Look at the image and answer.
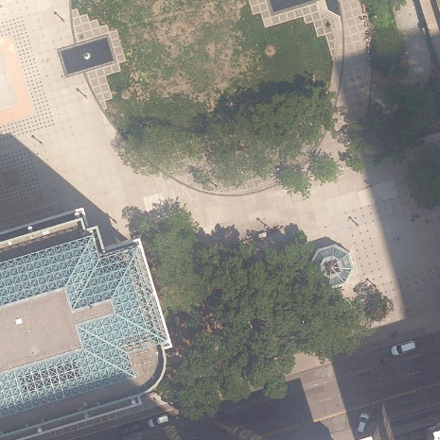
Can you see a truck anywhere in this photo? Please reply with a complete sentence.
No, the picture doesn't show any truck.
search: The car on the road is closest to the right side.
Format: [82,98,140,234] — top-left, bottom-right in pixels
[391,341,416,355]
